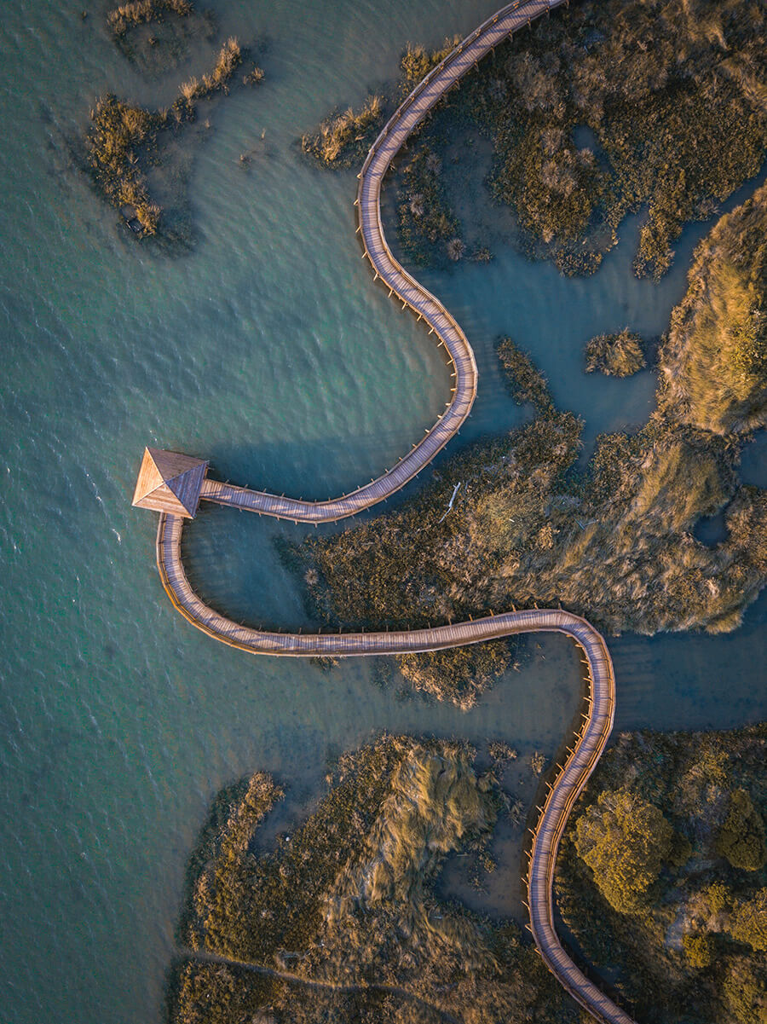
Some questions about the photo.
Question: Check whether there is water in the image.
Yes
